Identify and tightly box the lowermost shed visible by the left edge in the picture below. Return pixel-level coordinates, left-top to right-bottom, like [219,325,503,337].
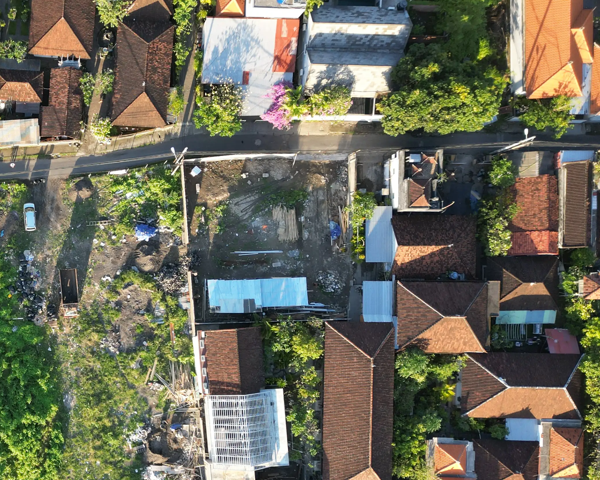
[0,121,40,145]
